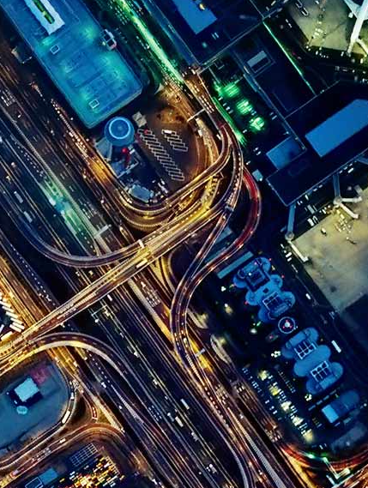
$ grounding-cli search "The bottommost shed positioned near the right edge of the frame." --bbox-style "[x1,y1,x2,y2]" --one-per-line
[332,423,368,450]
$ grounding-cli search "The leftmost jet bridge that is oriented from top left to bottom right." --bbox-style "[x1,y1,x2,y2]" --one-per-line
[290,239,311,265]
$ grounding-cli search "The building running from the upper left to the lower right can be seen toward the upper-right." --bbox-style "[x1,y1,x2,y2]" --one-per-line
[230,22,316,129]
